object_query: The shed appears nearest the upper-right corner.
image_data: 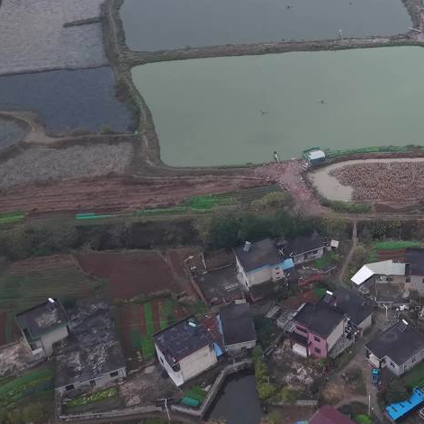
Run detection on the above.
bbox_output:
[305,150,326,170]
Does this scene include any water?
Yes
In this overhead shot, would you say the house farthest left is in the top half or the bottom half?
bottom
